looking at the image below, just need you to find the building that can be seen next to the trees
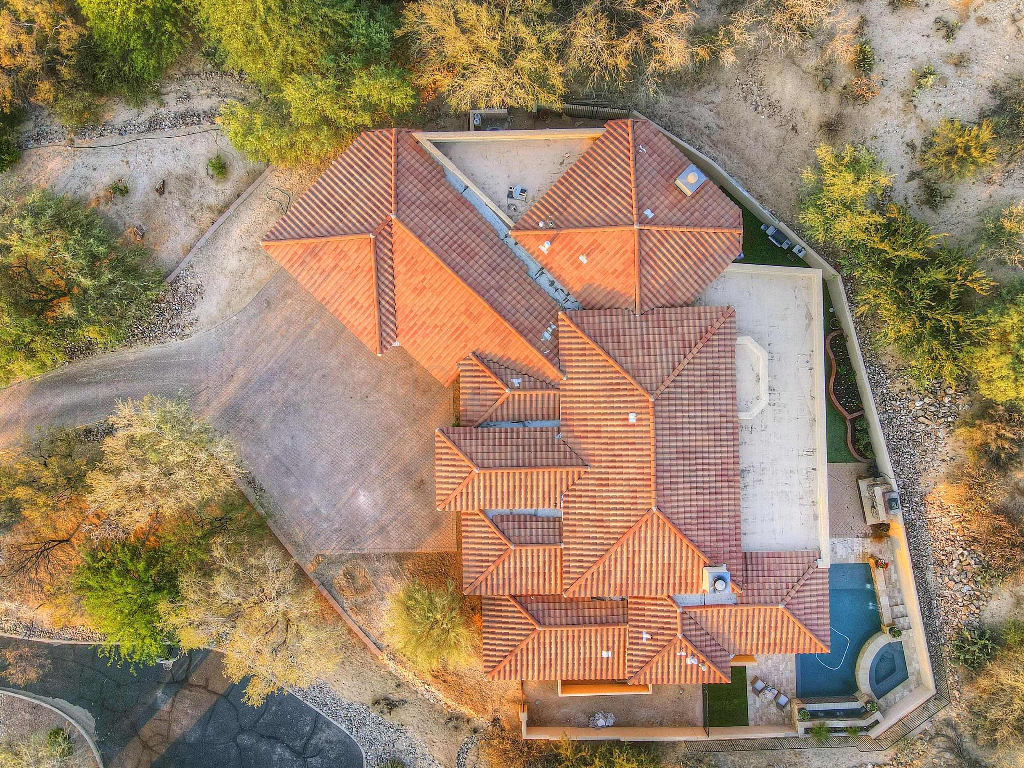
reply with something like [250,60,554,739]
[259,118,832,696]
